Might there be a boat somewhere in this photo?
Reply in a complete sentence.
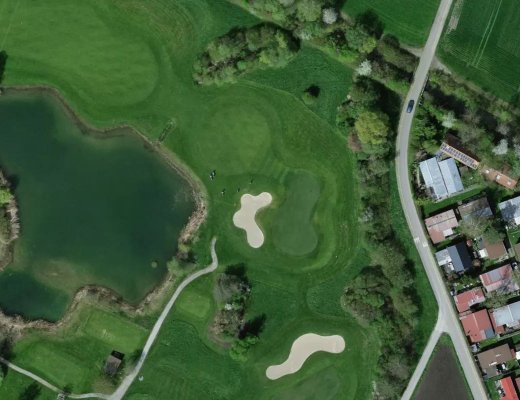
No, the scene contains no boat.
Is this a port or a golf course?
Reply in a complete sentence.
The area seen from above is a golf course.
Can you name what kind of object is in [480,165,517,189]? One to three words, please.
shed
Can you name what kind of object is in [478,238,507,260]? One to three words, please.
house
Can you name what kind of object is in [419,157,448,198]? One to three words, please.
building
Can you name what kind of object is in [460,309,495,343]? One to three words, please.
house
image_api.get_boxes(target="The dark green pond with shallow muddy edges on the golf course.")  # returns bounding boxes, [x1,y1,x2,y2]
[0,99,182,311]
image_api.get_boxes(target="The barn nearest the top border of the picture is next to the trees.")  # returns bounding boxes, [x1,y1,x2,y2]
[437,135,483,171]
